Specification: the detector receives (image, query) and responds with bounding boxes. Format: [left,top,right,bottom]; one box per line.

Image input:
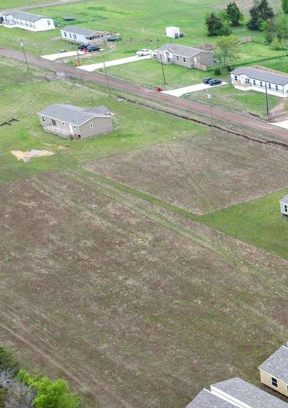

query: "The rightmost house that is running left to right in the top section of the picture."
[228,66,288,99]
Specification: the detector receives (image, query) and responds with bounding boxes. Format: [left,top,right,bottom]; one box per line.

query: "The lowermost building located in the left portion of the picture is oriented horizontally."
[32,104,112,140]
